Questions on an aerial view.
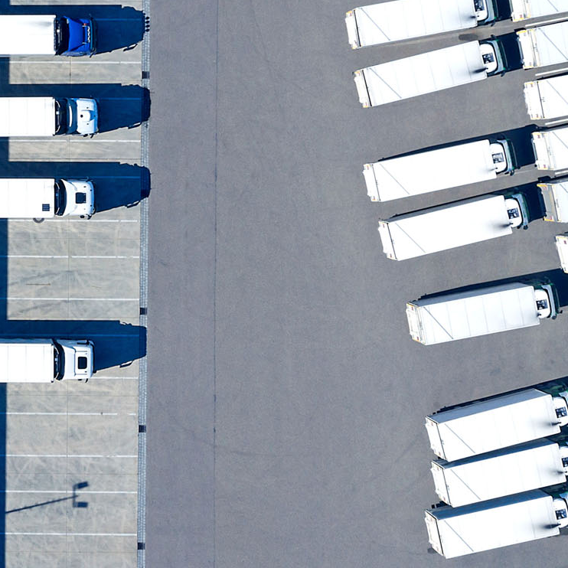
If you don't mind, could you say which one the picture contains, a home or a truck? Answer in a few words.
truck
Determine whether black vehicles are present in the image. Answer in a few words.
No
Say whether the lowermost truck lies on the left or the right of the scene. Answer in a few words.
right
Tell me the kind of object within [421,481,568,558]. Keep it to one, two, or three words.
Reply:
truck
